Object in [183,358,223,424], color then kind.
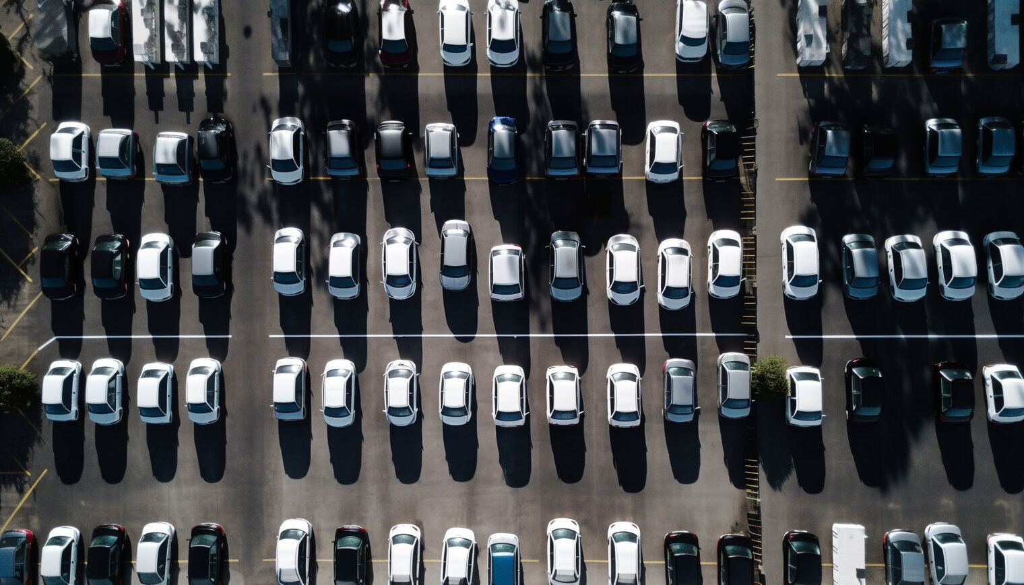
white car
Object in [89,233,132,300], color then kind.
black car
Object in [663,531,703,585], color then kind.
black car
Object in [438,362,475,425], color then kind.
white car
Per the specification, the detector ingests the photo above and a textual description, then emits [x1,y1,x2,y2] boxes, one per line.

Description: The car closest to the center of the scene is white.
[488,243,527,302]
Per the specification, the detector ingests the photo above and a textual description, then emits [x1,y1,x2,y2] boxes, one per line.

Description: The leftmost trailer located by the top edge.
[38,0,84,62]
